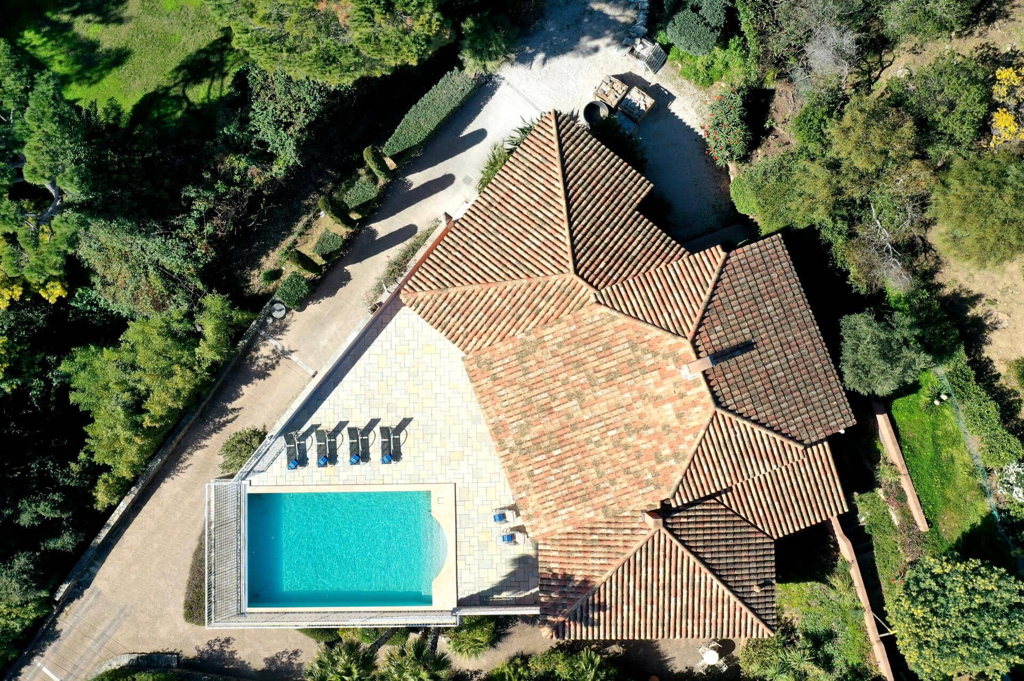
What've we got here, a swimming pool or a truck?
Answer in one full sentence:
It is a swimming pool that can be seen here.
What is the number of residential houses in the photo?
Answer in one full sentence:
I count just 1 residential house.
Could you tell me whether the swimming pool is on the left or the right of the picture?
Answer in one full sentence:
The swimming pool is on the left side of the image.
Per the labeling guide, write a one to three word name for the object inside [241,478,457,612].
swimming pool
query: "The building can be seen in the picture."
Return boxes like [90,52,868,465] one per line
[398,108,856,641]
